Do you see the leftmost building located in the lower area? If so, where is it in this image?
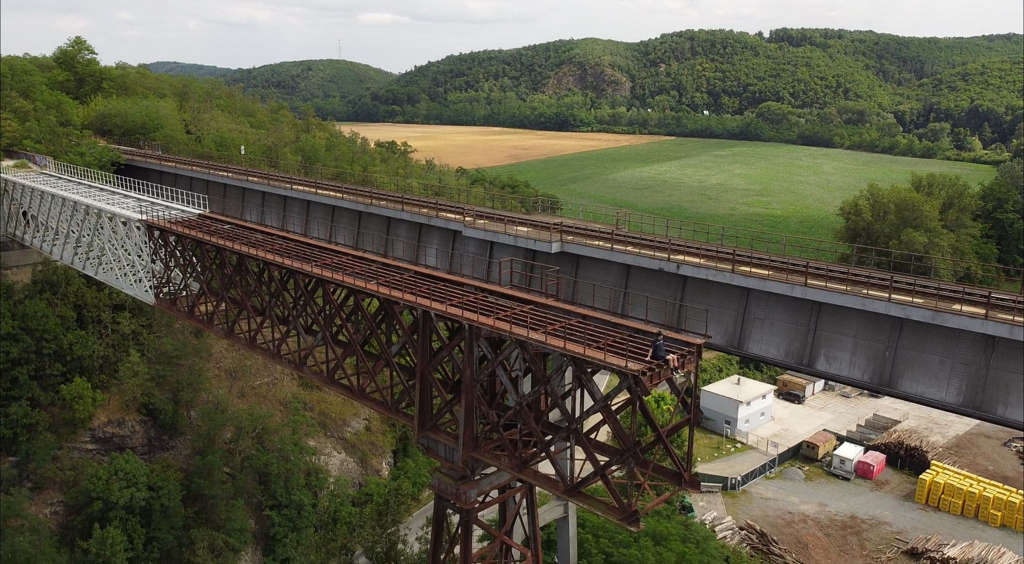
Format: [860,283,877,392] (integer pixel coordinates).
[698,374,779,441]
